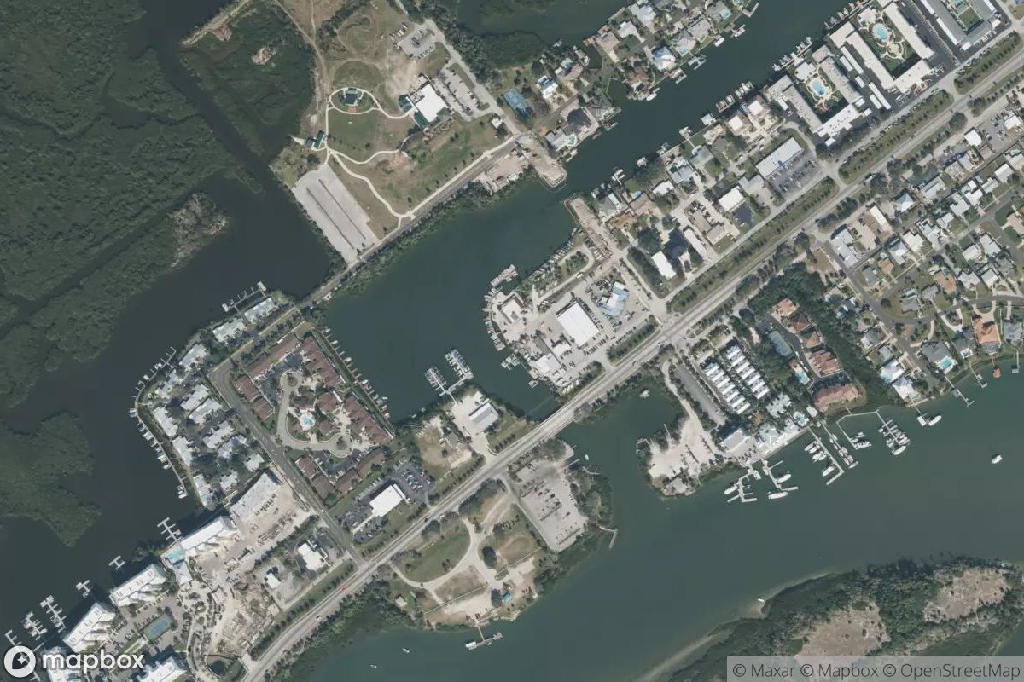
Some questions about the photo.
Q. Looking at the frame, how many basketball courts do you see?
zero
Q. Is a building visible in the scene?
Yes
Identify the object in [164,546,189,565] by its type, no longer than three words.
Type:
swimming pool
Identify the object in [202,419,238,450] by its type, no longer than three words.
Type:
house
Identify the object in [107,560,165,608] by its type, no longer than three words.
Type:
building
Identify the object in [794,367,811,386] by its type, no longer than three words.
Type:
swimming pool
